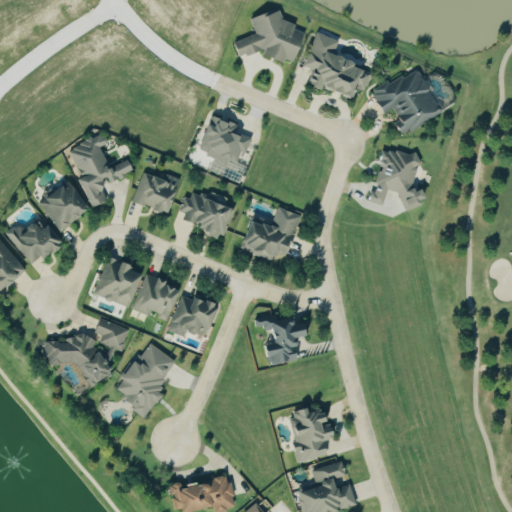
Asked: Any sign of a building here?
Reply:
Yes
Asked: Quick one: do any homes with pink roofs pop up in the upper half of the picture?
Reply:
No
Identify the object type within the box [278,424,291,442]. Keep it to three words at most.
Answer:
swimming pool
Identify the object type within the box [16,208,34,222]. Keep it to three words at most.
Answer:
swimming pool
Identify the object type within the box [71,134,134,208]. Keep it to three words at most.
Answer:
house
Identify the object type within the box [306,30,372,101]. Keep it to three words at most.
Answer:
house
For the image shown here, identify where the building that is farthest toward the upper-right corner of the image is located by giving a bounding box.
[374,67,446,136]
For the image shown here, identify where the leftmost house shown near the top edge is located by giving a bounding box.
[235,8,306,62]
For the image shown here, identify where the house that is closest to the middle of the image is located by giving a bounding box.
[244,207,302,262]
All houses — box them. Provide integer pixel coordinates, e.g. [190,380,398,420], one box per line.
[254,320,308,367]
[42,334,115,392]
[235,8,306,62]
[306,30,372,101]
[292,408,334,464]
[40,182,87,231]
[369,148,428,211]
[244,207,302,262]
[134,173,181,216]
[71,134,134,208]
[116,344,174,411]
[179,192,233,240]
[4,219,61,265]
[238,502,274,512]
[168,294,218,338]
[0,237,28,292]
[374,67,446,136]
[170,478,236,512]
[132,274,180,320]
[94,260,140,308]
[202,116,254,164]
[300,461,359,512]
